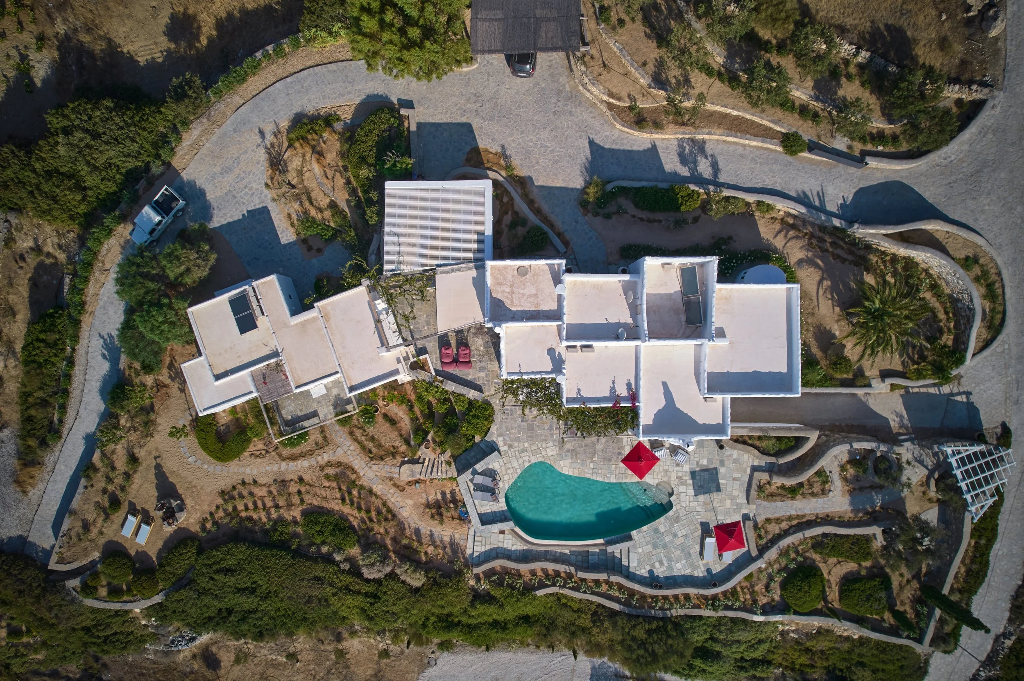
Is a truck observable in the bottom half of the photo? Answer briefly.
No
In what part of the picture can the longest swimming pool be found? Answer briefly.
bottom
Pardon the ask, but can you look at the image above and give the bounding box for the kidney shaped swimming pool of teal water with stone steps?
[505,462,673,551]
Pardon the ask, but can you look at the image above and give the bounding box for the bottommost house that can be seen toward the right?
[485,257,801,450]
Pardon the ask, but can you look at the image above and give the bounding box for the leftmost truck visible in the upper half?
[132,184,189,249]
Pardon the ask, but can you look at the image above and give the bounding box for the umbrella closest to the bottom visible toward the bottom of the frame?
[713,520,745,554]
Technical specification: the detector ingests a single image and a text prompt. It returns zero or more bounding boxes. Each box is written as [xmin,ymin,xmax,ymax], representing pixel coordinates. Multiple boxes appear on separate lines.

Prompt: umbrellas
[621,441,660,480]
[713,520,745,554]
